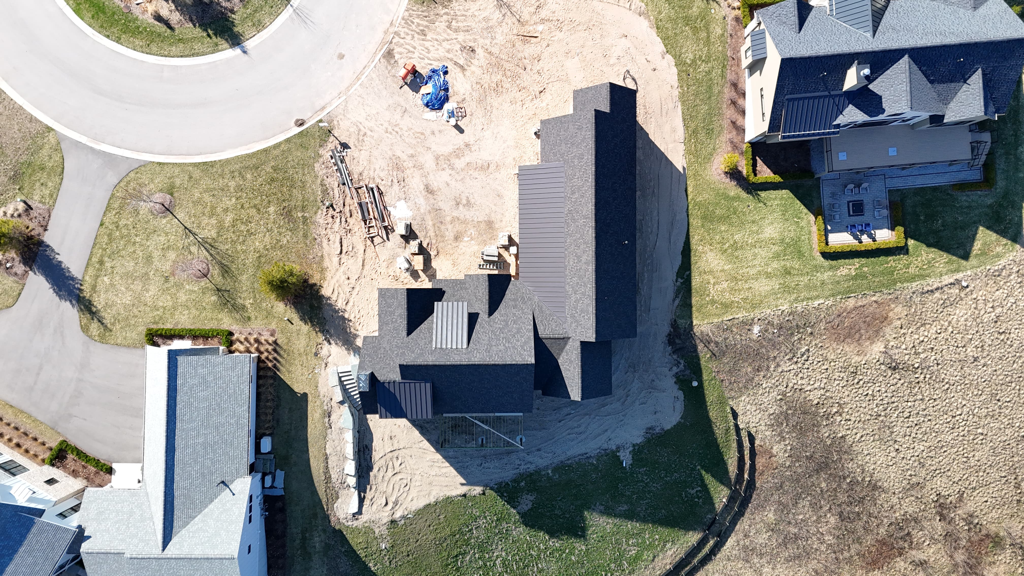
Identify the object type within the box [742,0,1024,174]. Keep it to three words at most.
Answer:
house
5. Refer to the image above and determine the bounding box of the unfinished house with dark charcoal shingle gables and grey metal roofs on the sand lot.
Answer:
[356,80,636,418]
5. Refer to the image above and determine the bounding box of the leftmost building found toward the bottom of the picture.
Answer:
[0,342,265,576]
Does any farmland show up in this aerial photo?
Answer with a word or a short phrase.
No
